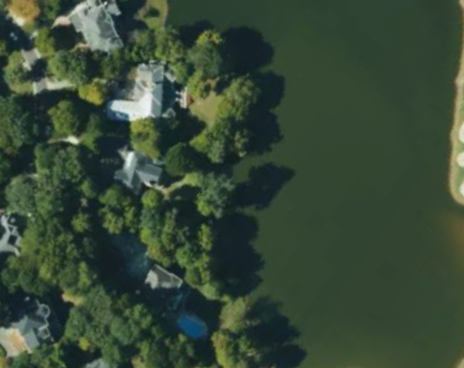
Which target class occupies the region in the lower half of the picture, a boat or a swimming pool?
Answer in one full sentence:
The feature located in the lower half of the picture is a swimming pool.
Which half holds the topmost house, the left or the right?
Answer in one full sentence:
The topmost house sits on the left side.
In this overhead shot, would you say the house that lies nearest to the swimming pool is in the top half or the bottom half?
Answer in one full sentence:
It is in the bottom half that the house that lies nearest to the swimming pool appears.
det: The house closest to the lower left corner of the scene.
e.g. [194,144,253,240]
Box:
[11,306,52,346]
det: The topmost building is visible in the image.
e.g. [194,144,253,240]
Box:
[67,0,125,55]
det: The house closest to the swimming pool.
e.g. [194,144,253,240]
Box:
[144,261,184,293]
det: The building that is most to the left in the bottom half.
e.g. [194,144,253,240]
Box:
[0,210,21,253]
